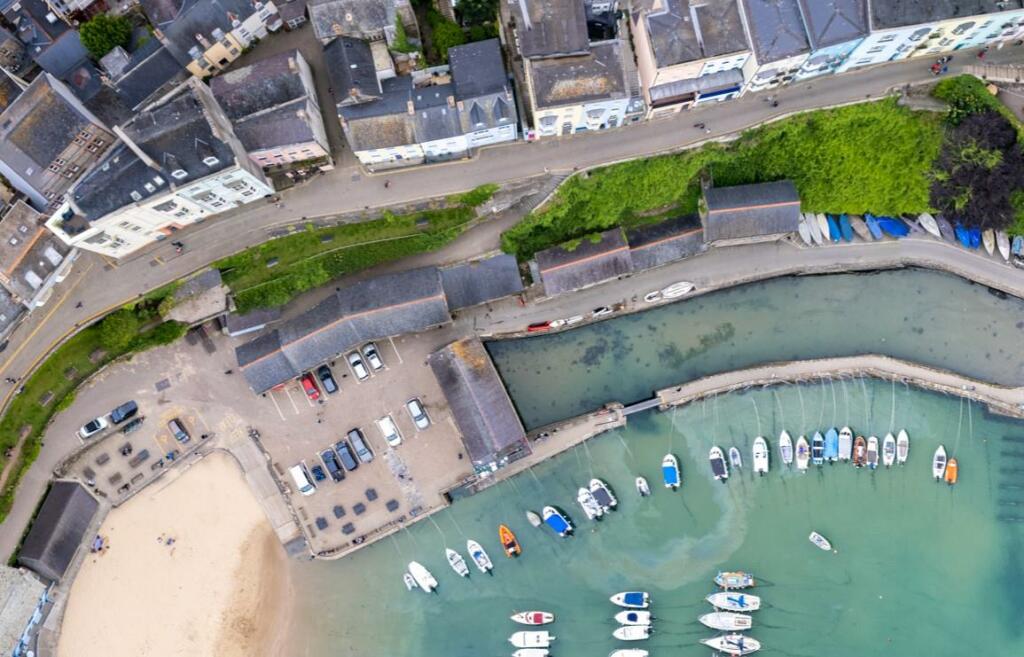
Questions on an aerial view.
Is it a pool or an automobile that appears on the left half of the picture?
automobile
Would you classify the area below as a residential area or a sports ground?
residential area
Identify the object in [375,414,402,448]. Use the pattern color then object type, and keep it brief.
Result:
white vehicle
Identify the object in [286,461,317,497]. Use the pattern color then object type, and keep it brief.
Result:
white van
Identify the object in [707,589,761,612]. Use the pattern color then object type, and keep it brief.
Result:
white boat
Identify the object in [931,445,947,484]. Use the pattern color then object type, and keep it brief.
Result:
white boat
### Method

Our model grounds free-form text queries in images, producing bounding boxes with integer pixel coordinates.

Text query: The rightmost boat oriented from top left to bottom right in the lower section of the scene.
[810,532,834,553]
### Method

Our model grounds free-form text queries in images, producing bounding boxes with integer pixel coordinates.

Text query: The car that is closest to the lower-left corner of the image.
[78,415,109,439]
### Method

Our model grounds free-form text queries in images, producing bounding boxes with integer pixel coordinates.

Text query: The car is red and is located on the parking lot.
[298,373,321,401]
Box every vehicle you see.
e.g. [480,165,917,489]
[405,397,430,429]
[298,373,321,401]
[346,351,371,382]
[110,400,140,424]
[375,414,402,448]
[317,365,340,395]
[318,447,347,484]
[286,461,317,497]
[347,428,374,463]
[361,343,385,372]
[165,415,193,445]
[333,439,361,472]
[78,415,109,439]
